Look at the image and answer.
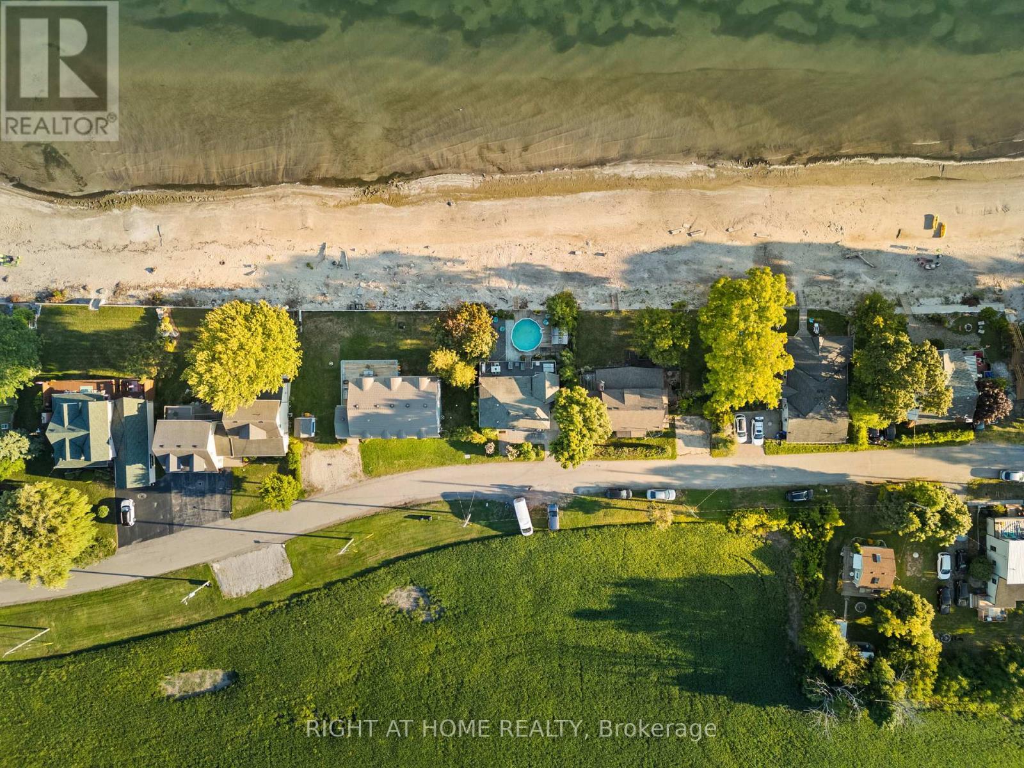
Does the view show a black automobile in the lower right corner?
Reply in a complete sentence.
Yes, looking in the lower right corner, one can make out a black automobile.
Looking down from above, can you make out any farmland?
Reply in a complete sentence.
Yes, some farmland is visible.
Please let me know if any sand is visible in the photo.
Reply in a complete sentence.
Yes, the picture does contain sand.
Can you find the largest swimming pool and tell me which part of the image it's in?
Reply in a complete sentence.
The largest swimming pool is in the center part of the image.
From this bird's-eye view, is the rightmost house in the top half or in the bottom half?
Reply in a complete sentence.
Seen from above, the rightmost house lies in the bottom half of the view.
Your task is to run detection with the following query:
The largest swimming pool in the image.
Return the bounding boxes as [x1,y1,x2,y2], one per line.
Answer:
[511,318,545,352]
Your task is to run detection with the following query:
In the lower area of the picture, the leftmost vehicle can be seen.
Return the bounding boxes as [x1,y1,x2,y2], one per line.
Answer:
[120,499,136,527]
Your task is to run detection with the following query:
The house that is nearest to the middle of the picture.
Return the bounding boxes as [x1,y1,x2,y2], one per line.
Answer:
[478,369,560,429]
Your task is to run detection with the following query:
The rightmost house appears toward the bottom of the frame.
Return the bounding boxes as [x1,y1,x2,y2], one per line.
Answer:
[982,514,1024,608]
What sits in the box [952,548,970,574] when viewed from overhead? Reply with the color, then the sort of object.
black car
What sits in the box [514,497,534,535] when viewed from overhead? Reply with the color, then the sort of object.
white vehicle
